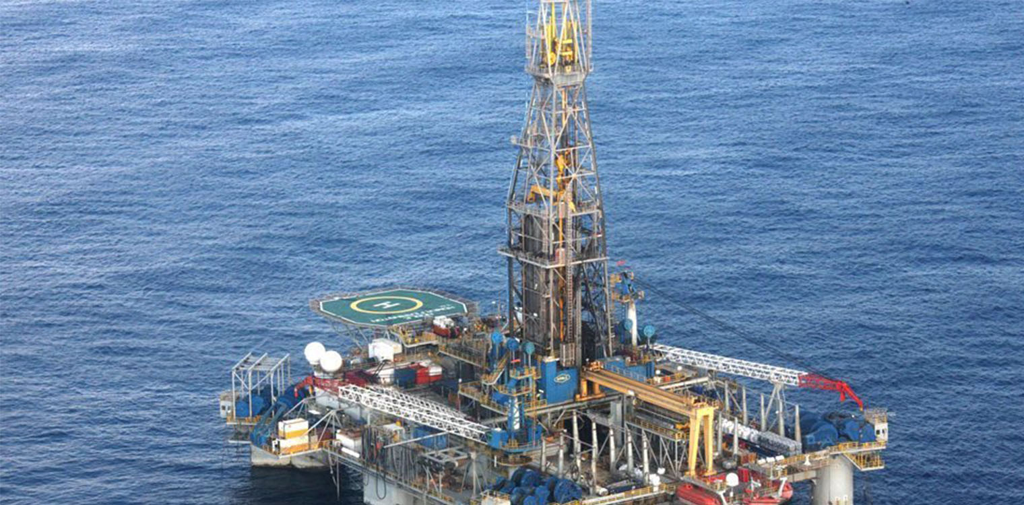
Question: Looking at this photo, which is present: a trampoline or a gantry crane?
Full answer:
Of the two, only a gantry crane appears.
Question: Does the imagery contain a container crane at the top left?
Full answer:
No, I see no container crane at the top left.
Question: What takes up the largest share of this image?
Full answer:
The largest share of the image is taken up by water.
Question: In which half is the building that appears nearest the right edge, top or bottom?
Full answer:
It is in the bottom half that the building that appears nearest the right edge appears.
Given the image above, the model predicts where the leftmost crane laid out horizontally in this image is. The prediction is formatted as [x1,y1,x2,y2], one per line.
[305,364,539,465]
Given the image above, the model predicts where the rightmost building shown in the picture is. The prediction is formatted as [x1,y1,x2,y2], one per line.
[868,414,890,444]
